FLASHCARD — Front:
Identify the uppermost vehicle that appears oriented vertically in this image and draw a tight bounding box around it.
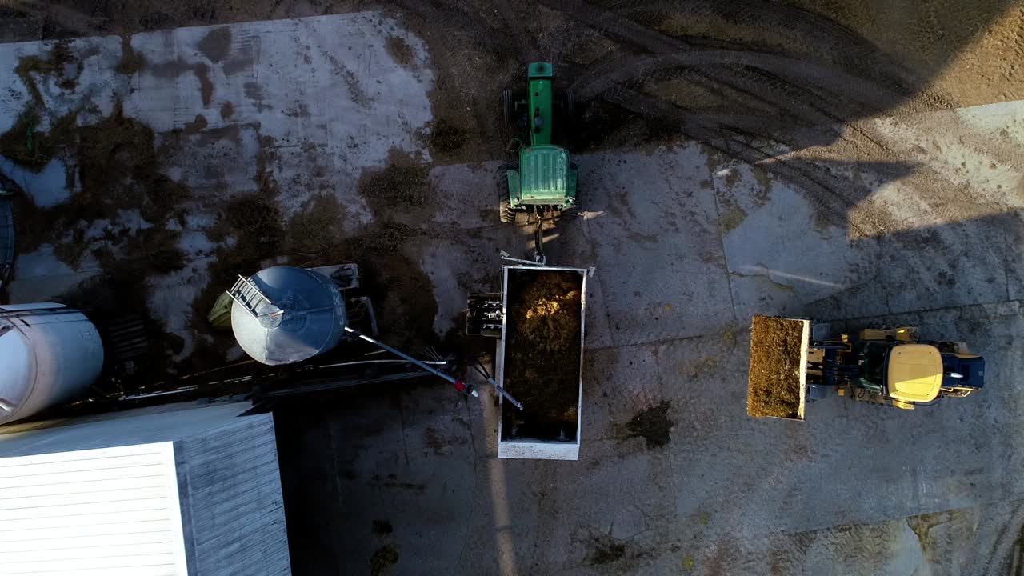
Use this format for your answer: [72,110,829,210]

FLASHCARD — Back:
[499,63,583,253]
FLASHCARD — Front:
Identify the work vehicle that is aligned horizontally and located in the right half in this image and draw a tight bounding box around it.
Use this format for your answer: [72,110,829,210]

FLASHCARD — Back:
[746,316,981,422]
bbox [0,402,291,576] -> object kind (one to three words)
barn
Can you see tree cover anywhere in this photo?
No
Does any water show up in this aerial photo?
No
